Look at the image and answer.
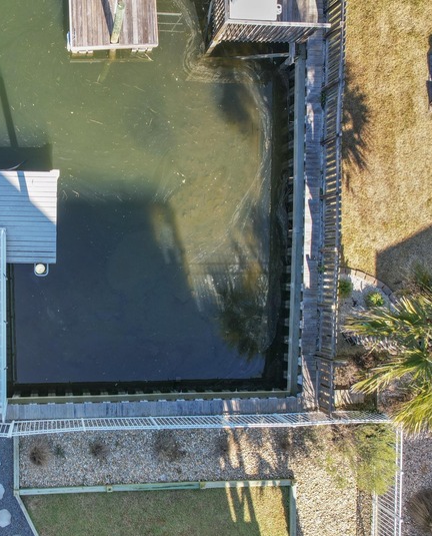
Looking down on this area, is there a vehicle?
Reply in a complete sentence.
No, the frame has no vehicle in it.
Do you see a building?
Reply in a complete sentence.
No, the picture doesn't show any building.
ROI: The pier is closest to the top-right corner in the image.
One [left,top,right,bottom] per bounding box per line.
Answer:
[204,0,339,68]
